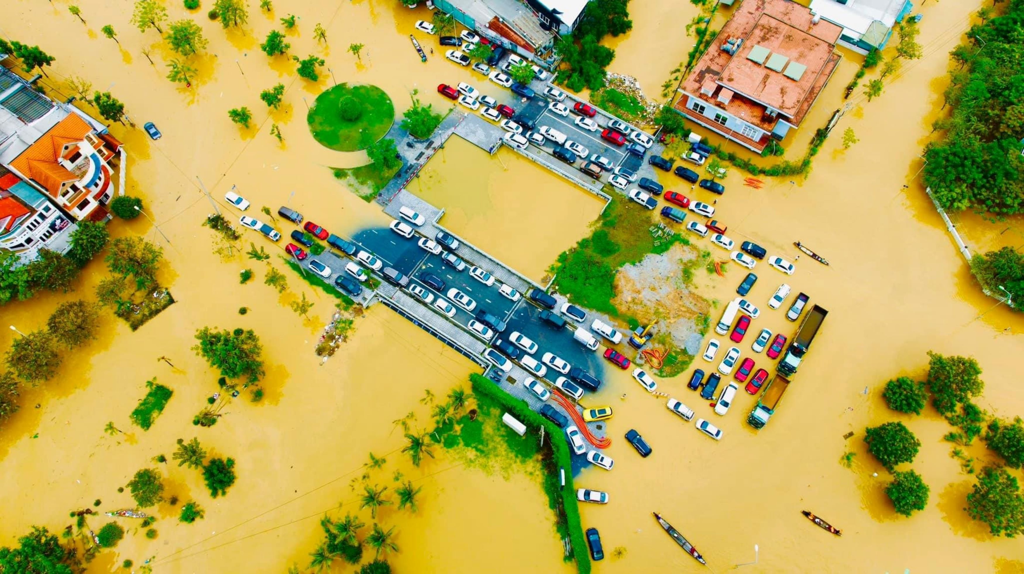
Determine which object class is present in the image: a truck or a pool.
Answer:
truck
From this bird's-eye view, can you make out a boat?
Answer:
Yes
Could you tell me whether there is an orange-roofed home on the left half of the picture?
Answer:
Yes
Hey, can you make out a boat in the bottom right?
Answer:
Yes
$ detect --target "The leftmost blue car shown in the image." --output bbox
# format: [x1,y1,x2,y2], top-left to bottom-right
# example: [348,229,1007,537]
[143,121,162,140]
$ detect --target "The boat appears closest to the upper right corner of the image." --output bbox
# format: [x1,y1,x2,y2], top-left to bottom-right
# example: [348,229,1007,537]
[793,241,830,266]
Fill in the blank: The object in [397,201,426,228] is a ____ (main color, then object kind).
white vehicle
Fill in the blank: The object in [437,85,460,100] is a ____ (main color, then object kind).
red car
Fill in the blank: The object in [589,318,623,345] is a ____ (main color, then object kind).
white truck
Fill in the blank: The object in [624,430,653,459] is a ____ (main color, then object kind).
blue car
